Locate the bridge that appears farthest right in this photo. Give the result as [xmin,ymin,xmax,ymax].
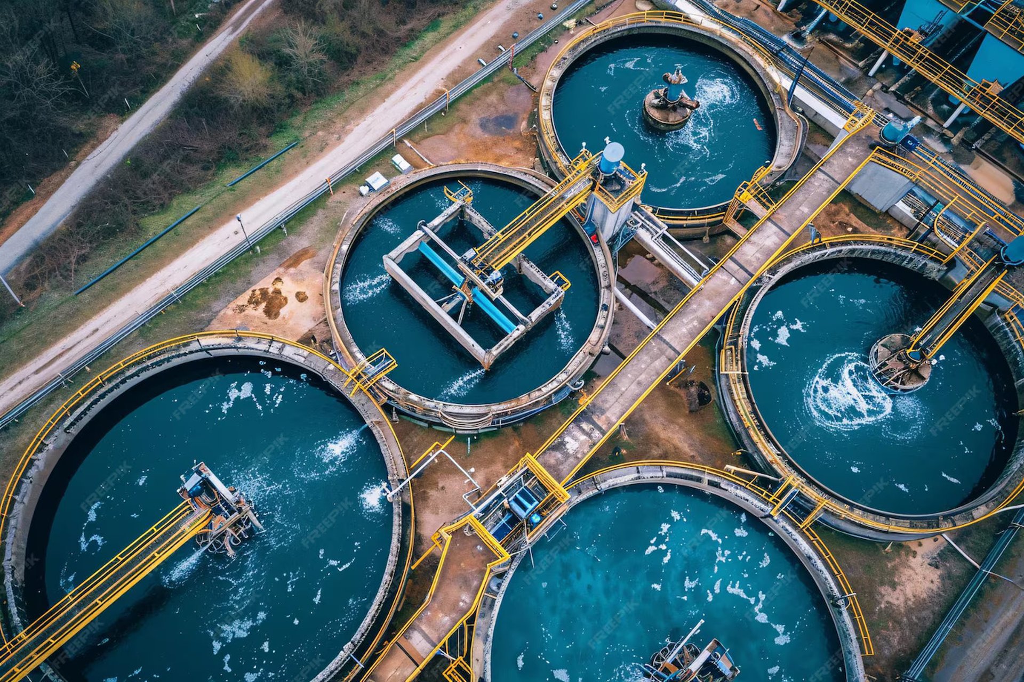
[905,248,1024,365]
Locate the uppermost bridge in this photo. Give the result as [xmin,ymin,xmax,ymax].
[475,162,596,272]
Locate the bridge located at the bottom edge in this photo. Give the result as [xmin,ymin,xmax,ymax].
[0,501,221,680]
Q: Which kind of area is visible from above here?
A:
industrial area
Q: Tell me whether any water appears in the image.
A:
Yes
